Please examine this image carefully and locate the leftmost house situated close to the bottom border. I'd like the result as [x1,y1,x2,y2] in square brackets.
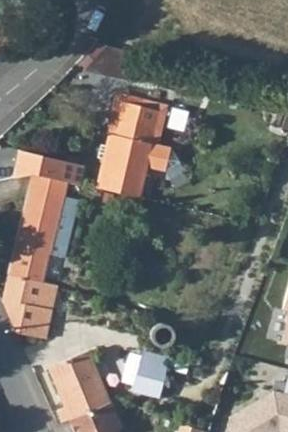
[46,354,122,432]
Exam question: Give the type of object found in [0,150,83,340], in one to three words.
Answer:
house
